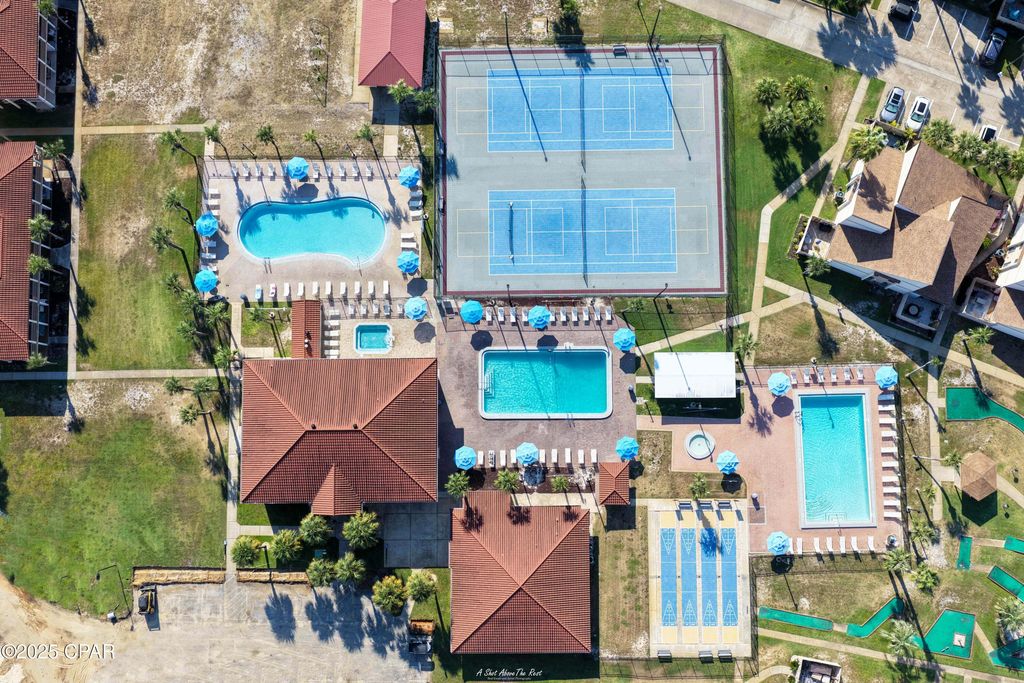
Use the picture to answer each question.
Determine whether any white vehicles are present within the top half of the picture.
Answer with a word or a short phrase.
Yes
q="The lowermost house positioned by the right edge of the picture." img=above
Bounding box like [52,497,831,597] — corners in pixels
[958,229,1024,338]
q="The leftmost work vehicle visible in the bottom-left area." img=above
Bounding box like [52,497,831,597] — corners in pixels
[136,583,155,616]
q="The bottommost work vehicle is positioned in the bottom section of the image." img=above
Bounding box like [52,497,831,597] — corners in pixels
[413,633,429,663]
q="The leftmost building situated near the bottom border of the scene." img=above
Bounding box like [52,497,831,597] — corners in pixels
[450,490,591,654]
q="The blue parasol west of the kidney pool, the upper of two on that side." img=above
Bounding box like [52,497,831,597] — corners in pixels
[196,214,218,236]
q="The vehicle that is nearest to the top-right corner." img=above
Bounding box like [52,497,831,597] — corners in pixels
[978,29,1007,70]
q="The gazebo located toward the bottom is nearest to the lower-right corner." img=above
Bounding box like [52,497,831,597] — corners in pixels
[961,451,997,501]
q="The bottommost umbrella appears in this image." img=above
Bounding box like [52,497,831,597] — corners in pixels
[767,531,790,554]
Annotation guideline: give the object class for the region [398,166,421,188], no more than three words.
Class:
umbrella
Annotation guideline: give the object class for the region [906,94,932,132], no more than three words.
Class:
car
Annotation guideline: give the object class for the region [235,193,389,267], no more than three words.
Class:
swimming pool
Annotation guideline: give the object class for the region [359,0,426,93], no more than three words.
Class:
building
